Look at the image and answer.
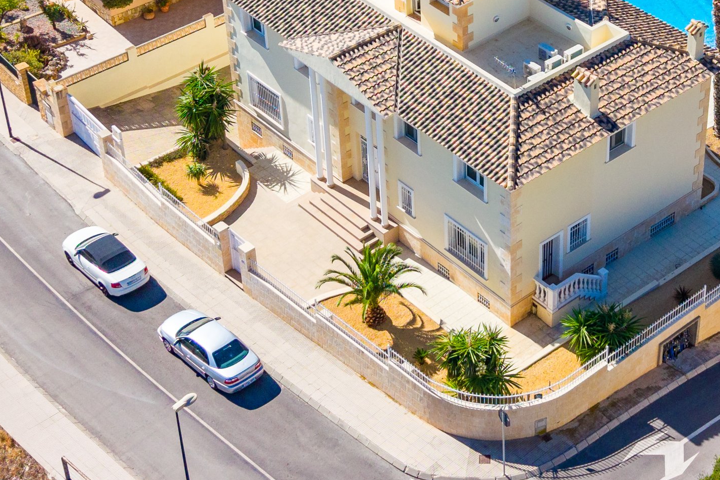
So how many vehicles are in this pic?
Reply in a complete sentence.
The number of vehicles here is 2.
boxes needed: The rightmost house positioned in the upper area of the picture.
[222,0,720,327]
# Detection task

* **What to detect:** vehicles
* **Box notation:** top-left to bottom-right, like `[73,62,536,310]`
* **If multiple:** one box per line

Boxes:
[155,305,259,391]
[58,222,149,297]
